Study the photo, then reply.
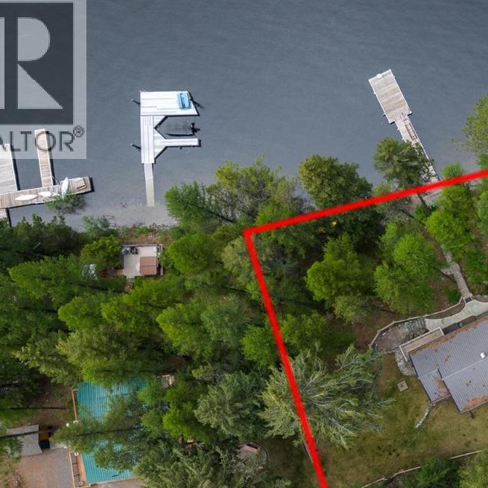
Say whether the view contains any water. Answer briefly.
Yes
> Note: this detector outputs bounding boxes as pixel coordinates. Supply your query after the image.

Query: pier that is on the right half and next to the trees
[368,70,441,185]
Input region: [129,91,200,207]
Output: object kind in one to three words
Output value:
pier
